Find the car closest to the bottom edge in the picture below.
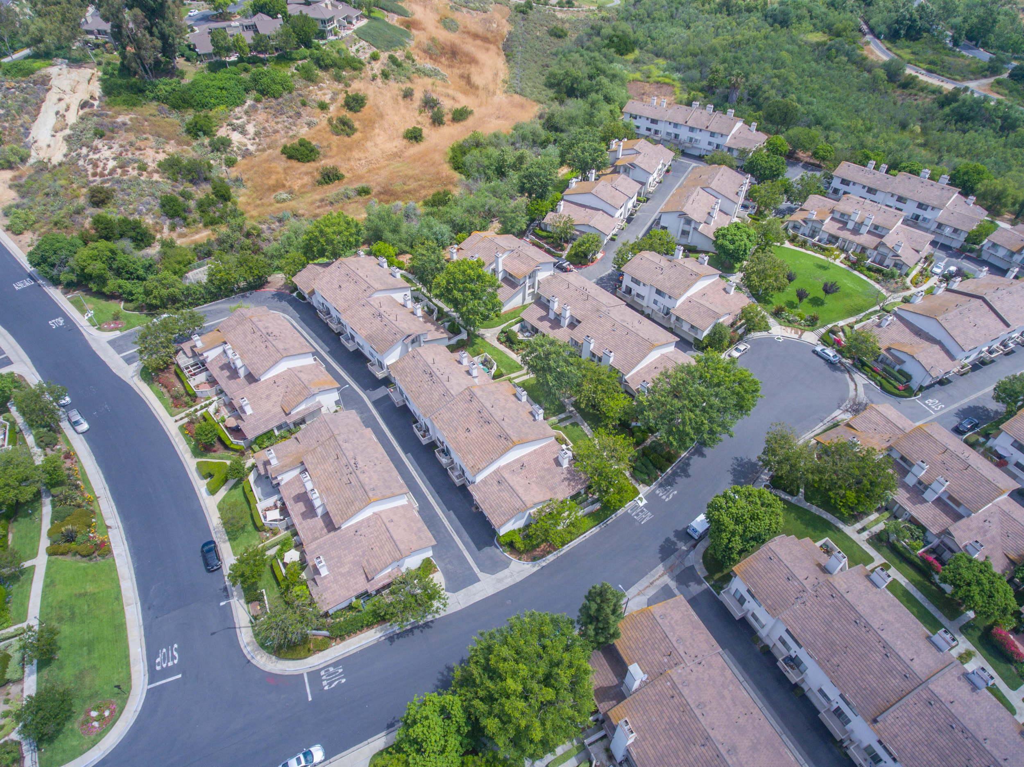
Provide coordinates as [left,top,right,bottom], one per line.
[272,745,322,767]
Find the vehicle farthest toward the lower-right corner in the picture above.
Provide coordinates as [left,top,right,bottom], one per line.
[953,416,978,434]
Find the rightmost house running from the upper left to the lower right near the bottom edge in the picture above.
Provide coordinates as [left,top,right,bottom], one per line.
[722,537,1024,767]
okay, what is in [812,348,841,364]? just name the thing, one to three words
car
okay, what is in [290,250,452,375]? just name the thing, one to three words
house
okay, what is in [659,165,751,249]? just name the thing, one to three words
house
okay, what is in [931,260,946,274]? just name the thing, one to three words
car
